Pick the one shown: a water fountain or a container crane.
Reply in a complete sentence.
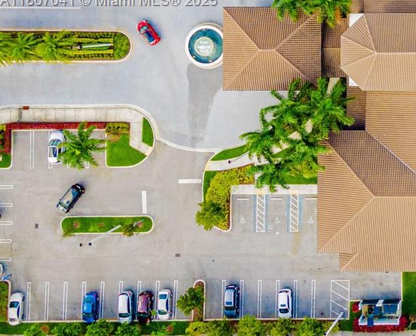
The one in the frame is a water fountain.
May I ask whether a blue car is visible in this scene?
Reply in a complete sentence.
Yes, looking at the shot, I can spot a blue car.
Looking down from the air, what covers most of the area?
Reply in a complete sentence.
What you mostly see from above here is paved ground.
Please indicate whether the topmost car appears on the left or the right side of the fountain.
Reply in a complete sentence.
The topmost car is to the left of the fountain.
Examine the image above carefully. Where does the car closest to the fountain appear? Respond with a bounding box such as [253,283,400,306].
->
[135,19,159,47]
